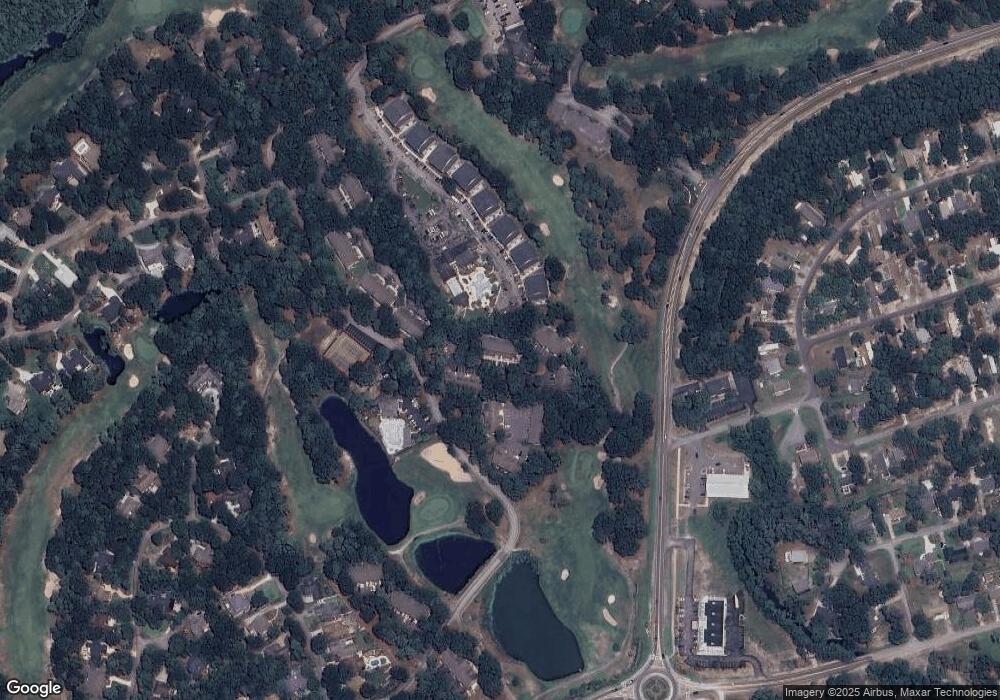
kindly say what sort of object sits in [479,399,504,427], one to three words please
building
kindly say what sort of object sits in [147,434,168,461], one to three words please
house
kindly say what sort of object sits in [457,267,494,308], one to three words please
swimming pool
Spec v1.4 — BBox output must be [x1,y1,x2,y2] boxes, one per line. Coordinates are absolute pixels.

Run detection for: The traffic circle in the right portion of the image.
[632,665,682,700]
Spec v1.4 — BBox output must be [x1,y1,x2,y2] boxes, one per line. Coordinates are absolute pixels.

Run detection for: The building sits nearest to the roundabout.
[691,596,727,655]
